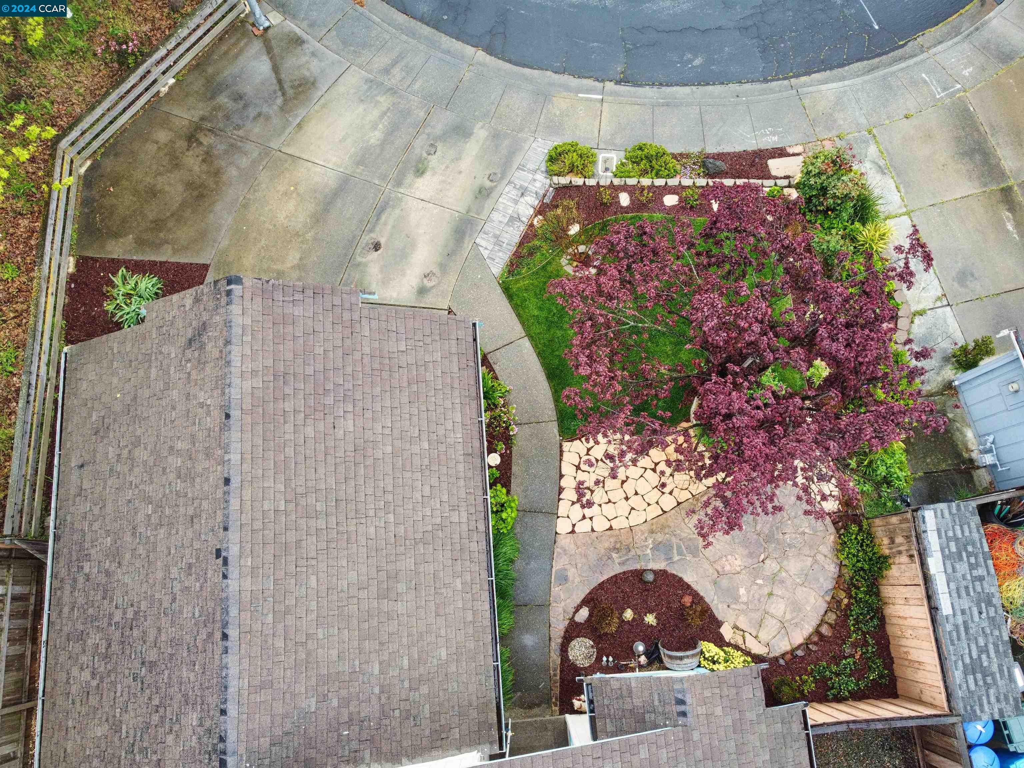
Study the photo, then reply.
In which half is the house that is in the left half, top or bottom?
bottom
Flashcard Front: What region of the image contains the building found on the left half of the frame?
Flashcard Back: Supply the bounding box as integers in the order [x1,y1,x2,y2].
[28,273,509,768]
